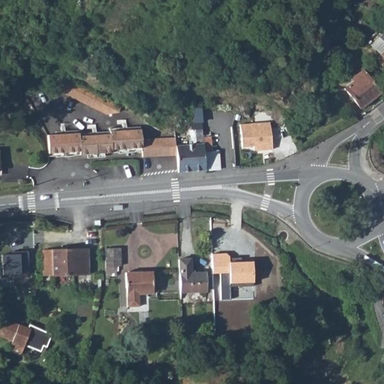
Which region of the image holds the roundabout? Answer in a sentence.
The roundabout is located in the right region of the scene.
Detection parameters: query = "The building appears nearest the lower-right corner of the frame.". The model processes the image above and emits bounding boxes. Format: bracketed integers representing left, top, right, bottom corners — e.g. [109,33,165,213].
[211,252,256,301]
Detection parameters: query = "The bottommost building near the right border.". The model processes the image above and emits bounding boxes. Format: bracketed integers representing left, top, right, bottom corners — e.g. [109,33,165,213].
[340,70,382,110]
